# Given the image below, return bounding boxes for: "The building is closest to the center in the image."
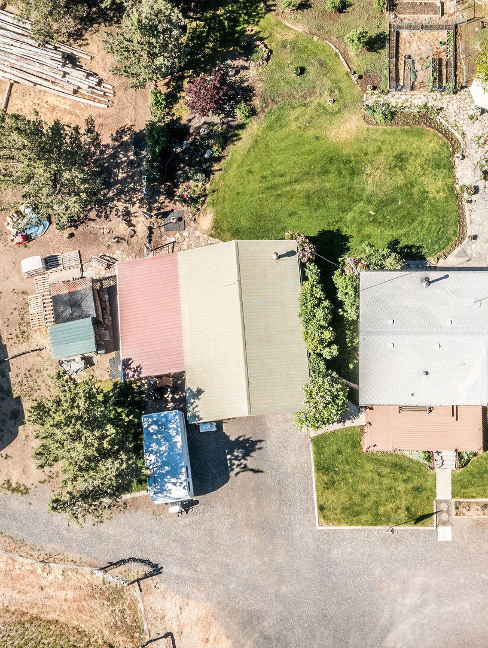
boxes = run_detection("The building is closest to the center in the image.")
[115,240,313,429]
